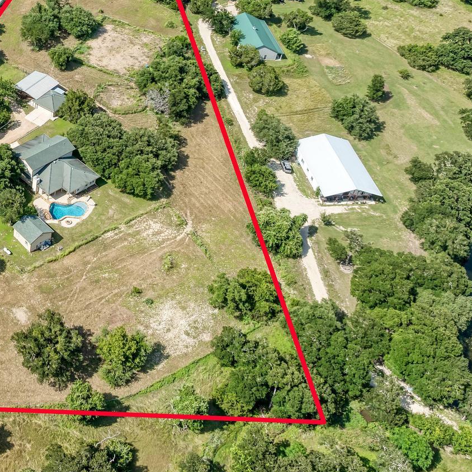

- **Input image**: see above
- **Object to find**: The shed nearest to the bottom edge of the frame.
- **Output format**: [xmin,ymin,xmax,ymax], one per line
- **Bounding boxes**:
[13,215,54,251]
